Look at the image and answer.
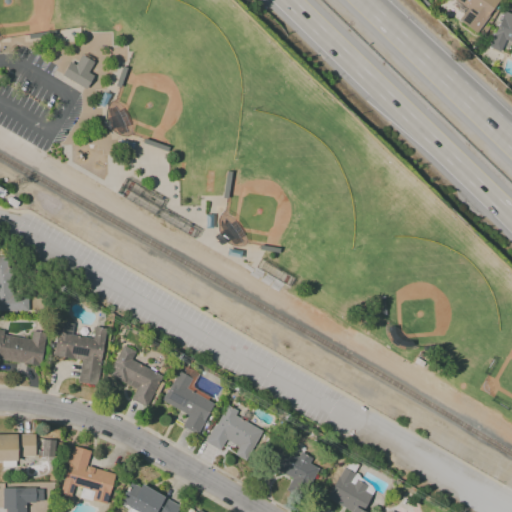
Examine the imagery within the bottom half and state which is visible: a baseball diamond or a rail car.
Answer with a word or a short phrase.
baseball diamond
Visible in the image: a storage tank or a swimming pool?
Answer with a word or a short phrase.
swimming pool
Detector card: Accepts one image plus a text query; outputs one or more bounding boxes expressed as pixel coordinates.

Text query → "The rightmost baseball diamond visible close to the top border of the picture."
[108,0,242,159]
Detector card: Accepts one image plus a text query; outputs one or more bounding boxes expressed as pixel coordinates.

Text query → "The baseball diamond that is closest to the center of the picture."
[219,108,356,248]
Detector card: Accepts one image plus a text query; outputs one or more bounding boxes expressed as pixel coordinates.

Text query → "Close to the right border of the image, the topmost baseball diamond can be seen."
[387,236,500,349]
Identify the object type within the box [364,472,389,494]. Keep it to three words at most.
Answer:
swimming pool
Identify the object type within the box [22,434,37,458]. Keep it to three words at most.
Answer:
building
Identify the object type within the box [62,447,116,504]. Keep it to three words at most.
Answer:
house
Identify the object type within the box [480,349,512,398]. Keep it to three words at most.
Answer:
baseball field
